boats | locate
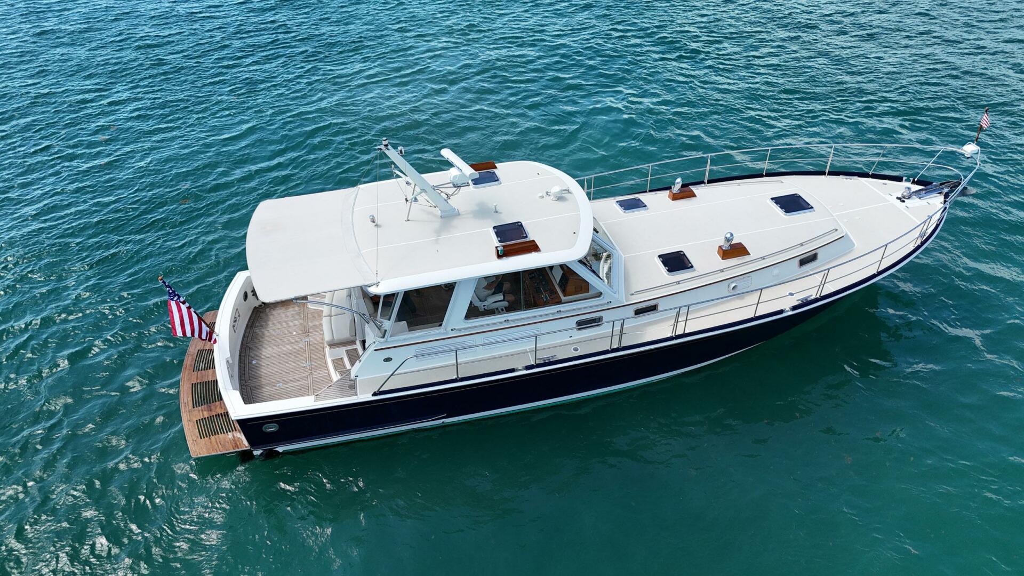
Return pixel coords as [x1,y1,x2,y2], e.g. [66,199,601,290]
[175,132,990,465]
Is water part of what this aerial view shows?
Yes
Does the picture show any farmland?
No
